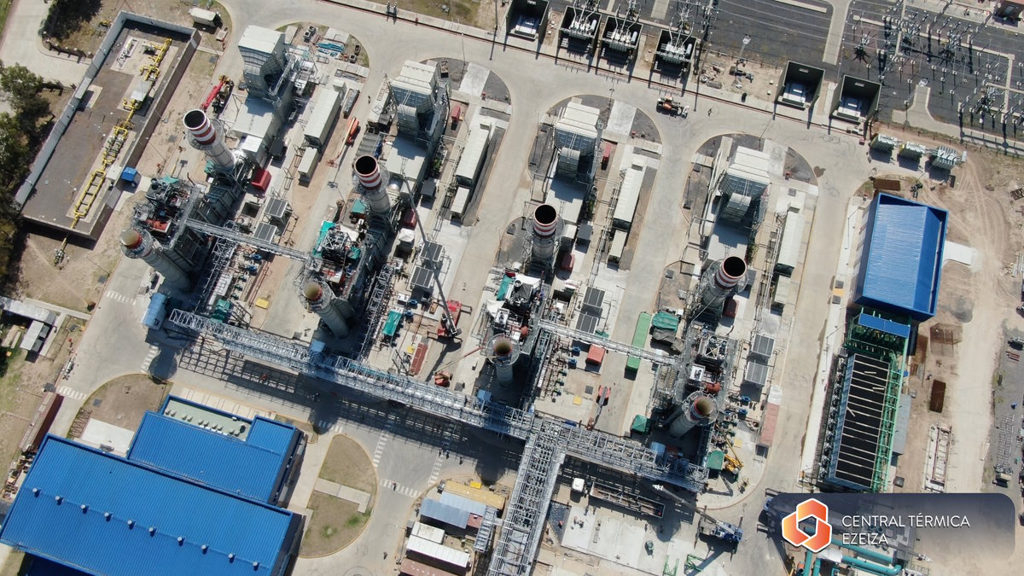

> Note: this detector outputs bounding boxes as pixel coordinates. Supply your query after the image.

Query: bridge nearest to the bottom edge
[536,319,681,378]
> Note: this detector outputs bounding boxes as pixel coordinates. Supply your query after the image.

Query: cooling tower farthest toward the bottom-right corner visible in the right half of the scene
[804,310,910,495]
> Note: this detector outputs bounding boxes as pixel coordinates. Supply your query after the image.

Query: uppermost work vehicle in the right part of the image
[661,97,691,113]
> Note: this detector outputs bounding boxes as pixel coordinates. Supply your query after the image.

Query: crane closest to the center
[400,169,468,347]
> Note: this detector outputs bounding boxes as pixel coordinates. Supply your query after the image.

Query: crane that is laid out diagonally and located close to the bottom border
[651,483,752,551]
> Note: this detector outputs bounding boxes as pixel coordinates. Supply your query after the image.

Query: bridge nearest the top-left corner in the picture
[186,218,320,285]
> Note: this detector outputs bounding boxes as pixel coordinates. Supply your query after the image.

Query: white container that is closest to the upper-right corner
[763,199,806,274]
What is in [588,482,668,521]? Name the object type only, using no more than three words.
trailer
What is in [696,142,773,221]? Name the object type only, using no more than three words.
house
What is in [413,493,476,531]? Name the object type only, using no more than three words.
shed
